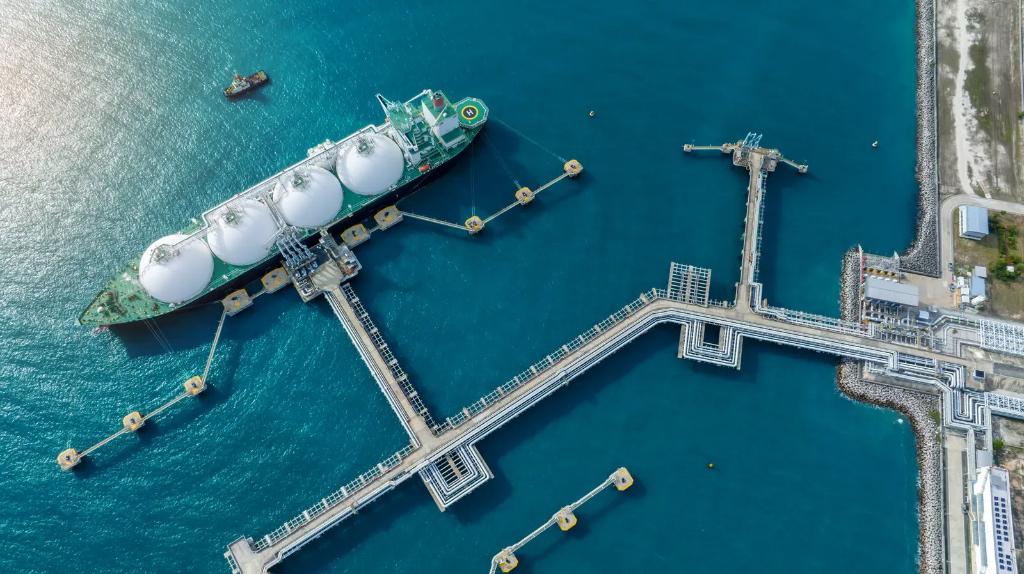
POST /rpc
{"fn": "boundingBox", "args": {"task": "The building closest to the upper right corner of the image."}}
[959,205,989,240]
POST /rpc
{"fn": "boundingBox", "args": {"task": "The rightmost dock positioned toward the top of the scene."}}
[729,141,779,182]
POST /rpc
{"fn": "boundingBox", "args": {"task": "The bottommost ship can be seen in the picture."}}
[75,86,487,328]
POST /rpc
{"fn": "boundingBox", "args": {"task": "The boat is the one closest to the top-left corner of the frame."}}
[223,70,270,95]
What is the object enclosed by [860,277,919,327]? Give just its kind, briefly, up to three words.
building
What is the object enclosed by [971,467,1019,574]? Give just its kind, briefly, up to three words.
building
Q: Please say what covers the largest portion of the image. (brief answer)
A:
water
